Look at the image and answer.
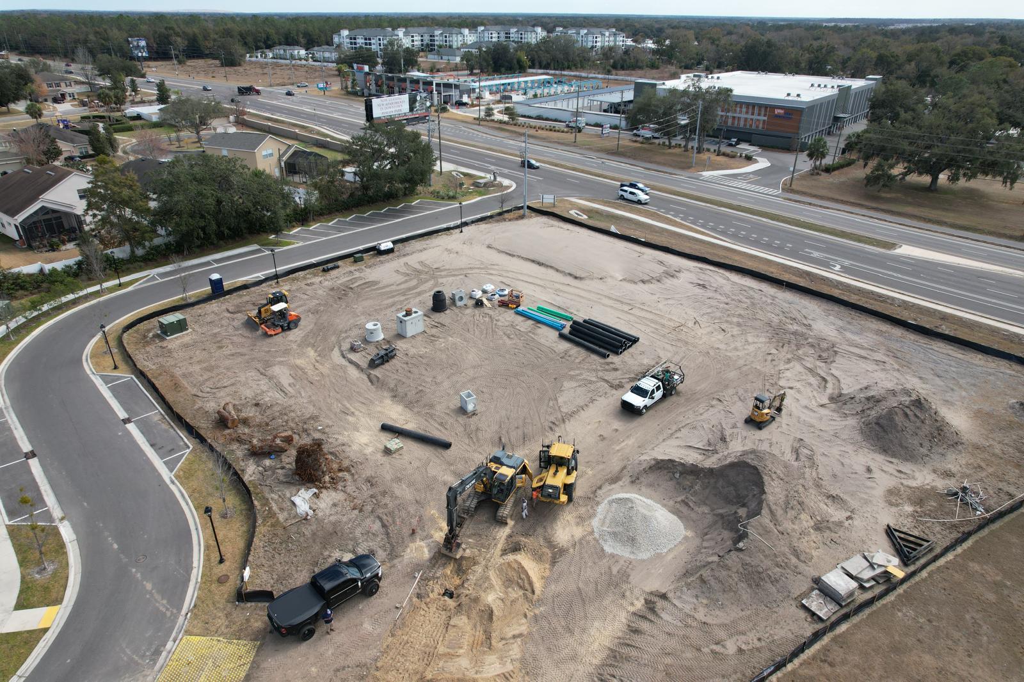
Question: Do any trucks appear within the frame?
Yes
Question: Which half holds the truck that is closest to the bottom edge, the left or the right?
left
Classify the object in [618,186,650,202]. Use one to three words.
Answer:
vehicle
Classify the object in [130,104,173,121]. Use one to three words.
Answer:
shed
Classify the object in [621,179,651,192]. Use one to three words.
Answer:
vehicle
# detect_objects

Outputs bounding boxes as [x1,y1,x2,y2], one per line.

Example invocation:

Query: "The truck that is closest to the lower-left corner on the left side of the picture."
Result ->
[268,554,387,642]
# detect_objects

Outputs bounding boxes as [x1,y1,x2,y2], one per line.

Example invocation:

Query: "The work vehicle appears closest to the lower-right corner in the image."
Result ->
[744,388,781,428]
